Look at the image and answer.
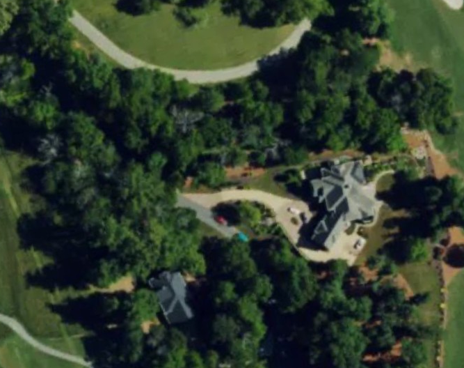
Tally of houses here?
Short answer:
2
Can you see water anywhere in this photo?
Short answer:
No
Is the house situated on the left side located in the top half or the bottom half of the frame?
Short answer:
bottom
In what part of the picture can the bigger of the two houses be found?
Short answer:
right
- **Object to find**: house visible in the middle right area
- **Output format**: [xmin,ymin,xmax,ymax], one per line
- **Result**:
[305,160,383,248]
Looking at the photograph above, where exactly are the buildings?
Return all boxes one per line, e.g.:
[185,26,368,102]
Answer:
[146,268,193,324]
[305,160,383,248]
